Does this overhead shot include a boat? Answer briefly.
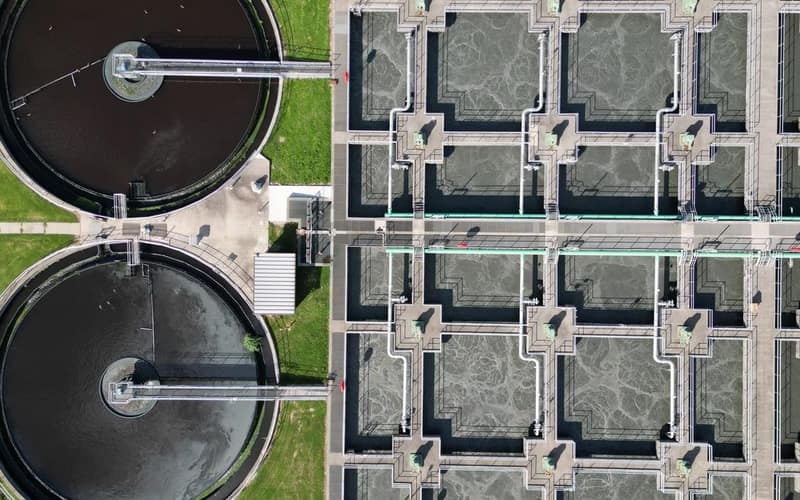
No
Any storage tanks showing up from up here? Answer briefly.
Yes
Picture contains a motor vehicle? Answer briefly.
No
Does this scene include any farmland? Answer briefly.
No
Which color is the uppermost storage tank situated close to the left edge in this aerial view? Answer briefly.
black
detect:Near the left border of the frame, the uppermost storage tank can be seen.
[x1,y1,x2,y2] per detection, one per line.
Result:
[0,0,280,219]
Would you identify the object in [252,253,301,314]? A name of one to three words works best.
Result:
shed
